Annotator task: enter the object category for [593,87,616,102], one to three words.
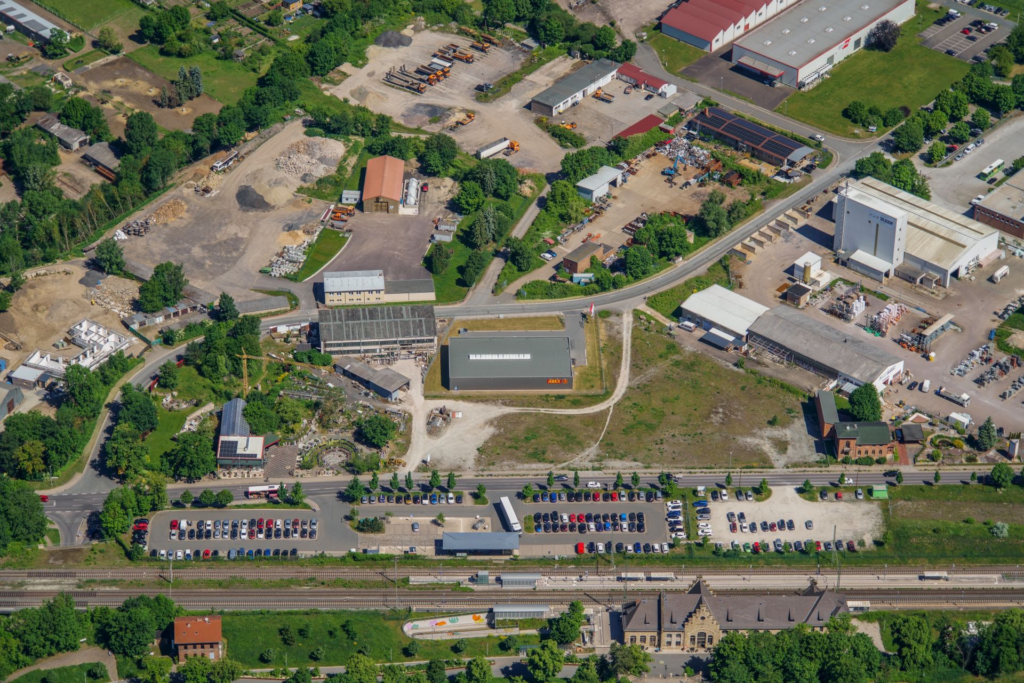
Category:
vehicle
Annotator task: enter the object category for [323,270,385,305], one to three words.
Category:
house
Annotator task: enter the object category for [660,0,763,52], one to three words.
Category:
building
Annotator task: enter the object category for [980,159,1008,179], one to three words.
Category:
bus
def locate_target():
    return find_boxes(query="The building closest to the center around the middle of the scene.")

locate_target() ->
[440,336,582,391]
